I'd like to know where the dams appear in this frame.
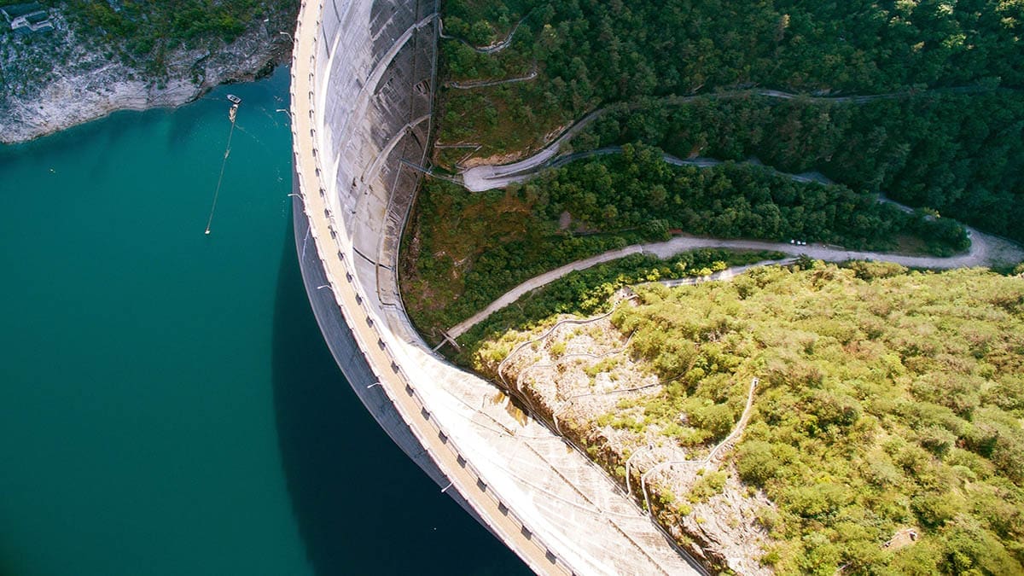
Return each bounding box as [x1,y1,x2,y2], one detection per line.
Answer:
[287,0,711,576]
